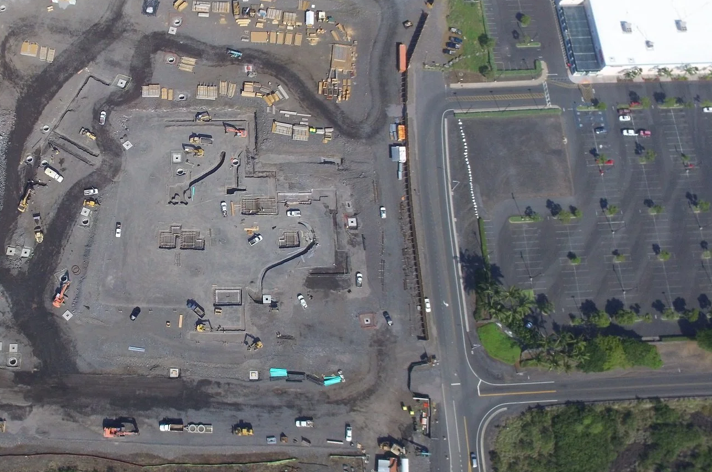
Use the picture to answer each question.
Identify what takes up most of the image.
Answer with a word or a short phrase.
paved ground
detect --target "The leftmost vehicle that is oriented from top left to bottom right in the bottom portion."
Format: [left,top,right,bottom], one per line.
[186,300,205,318]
